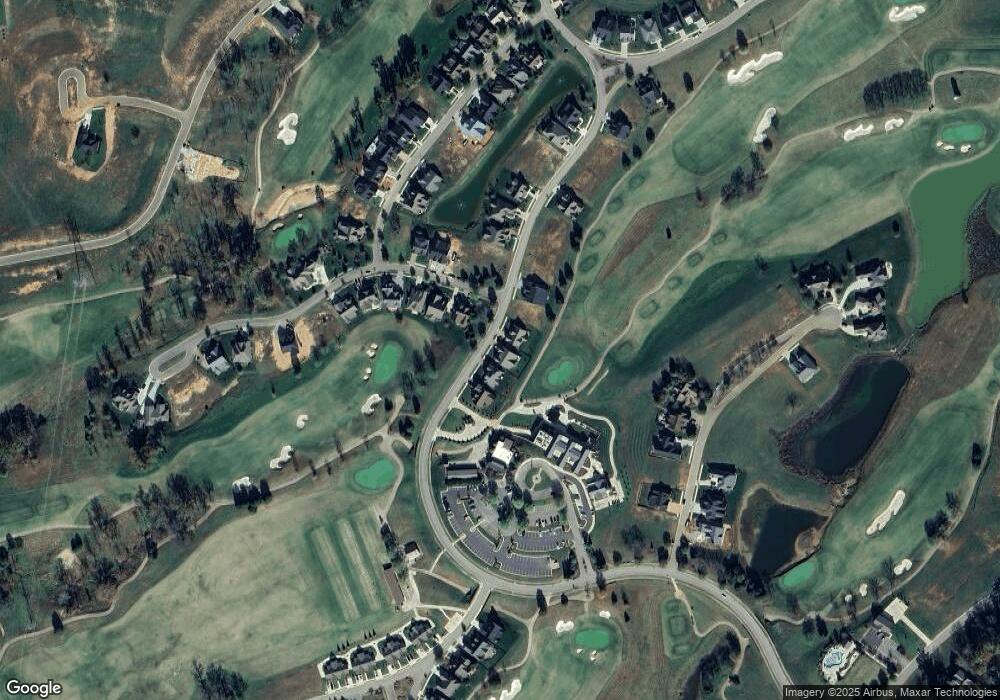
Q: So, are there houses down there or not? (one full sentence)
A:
Yes, the frame does contain a house.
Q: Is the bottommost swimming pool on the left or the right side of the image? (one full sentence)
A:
It is on the right.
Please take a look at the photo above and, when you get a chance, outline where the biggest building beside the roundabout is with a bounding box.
[529,410,600,470]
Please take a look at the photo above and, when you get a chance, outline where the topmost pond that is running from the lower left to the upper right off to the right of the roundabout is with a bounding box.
[793,359,910,477]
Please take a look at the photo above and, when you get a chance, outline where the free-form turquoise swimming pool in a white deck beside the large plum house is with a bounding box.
[822,643,860,682]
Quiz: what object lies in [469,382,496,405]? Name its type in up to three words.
house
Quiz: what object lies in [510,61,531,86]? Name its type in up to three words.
house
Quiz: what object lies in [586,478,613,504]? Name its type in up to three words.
building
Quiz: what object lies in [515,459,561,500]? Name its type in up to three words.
roundabout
